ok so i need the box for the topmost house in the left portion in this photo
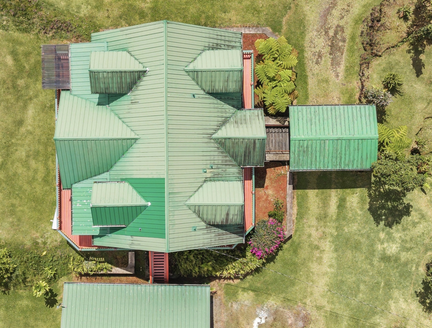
[42,20,268,285]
